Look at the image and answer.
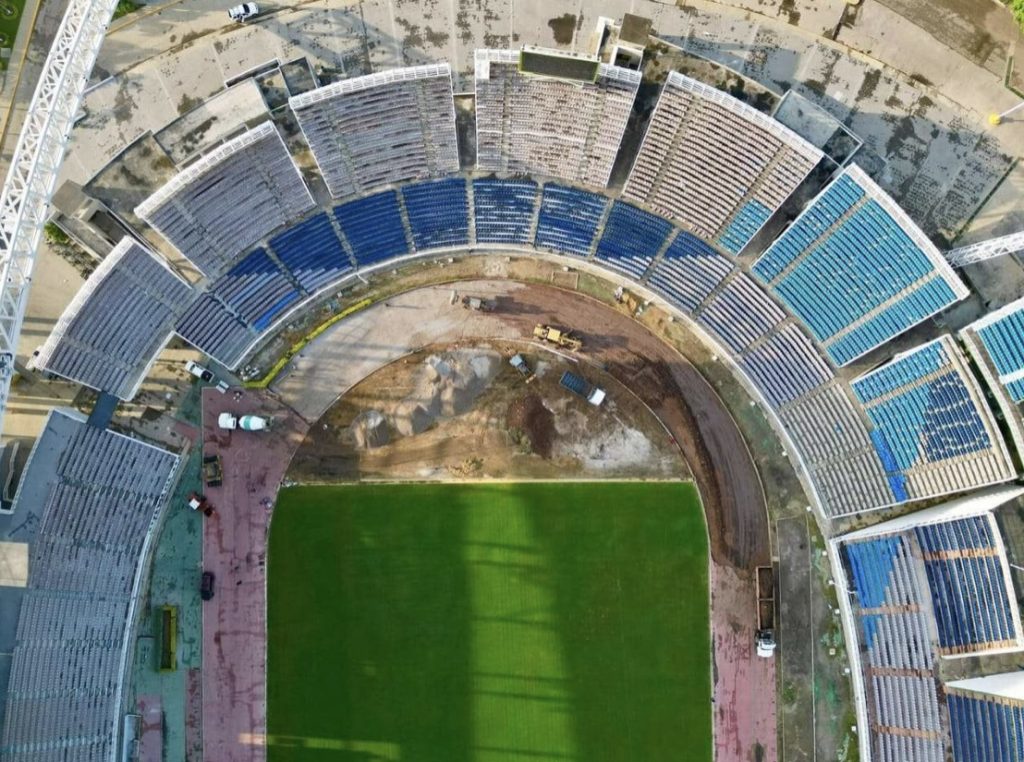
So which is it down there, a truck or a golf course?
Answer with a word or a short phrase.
truck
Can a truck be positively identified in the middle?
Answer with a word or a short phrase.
Yes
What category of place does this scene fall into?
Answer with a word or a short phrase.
sports ground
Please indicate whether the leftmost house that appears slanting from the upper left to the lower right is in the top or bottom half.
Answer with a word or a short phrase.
top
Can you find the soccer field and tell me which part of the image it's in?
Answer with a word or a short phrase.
bottom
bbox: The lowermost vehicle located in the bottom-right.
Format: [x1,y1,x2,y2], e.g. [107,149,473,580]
[755,567,778,661]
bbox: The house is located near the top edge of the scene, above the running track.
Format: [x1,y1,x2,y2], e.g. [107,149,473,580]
[590,13,652,71]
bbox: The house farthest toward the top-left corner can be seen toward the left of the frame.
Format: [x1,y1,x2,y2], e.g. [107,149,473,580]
[55,180,142,260]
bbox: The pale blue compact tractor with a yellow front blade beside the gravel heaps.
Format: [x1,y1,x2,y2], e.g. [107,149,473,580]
[510,354,534,382]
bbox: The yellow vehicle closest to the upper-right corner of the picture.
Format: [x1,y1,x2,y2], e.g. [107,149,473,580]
[533,323,588,355]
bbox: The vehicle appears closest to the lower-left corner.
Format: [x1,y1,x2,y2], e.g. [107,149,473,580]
[198,573,213,601]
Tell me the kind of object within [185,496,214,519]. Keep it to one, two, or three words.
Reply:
work vehicle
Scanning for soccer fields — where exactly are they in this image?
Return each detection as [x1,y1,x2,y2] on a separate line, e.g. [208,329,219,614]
[263,480,716,762]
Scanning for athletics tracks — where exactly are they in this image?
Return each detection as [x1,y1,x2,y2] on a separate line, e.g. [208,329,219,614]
[203,278,779,762]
